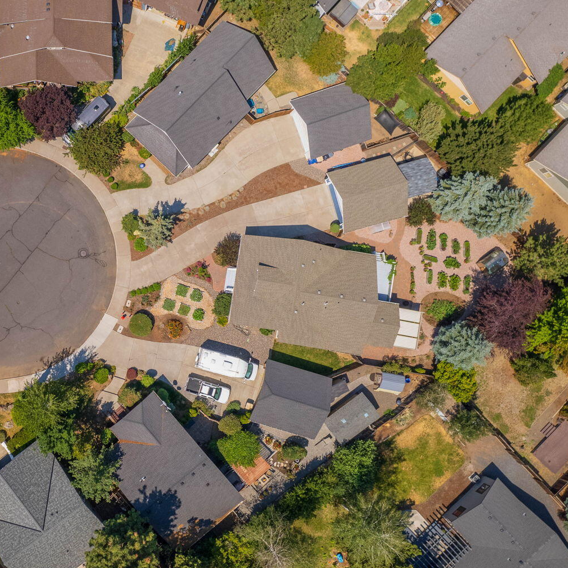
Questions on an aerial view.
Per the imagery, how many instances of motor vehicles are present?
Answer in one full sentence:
The picture shows 3 motor vehicles.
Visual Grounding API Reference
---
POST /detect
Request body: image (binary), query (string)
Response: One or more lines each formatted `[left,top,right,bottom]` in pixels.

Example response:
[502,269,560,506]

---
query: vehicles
[192,344,256,376]
[68,89,113,144]
[183,375,233,403]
